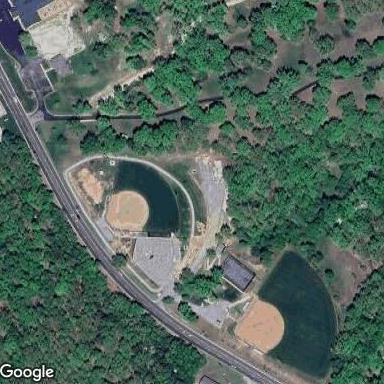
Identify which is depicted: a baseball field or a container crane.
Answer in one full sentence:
Visible in the photo is a baseball field.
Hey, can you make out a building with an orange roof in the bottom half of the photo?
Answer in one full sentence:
No, there is no building with an orange roof in the bottom half of the photo.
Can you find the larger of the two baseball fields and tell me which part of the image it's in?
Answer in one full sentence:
Look in the bottom right portion of the view to spot the larger of the two baseball fields.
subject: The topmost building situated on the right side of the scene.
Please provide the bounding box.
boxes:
[220,257,256,291]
